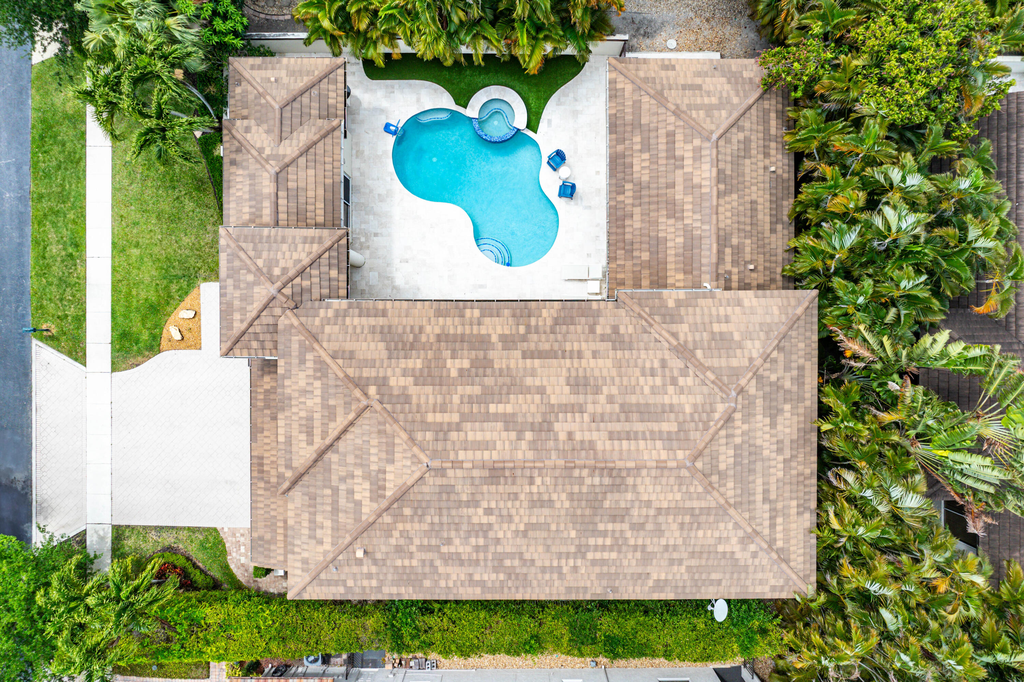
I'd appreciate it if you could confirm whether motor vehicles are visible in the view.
No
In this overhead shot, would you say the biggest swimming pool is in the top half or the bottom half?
top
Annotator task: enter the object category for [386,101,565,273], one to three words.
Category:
swimming pool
